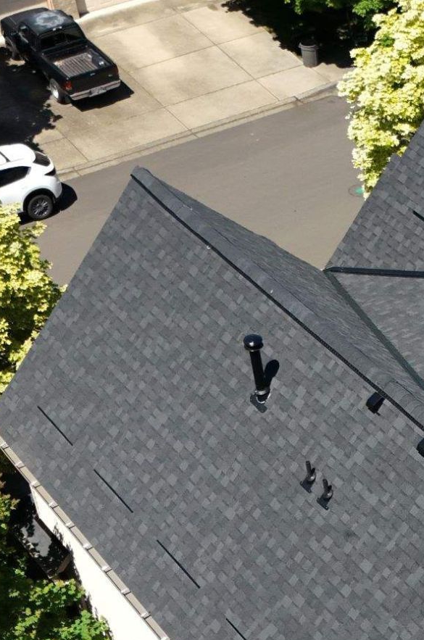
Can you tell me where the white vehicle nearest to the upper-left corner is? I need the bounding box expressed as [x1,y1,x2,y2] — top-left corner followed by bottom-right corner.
[0,140,70,219]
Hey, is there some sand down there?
No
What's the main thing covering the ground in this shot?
buildings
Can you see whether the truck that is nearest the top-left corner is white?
No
